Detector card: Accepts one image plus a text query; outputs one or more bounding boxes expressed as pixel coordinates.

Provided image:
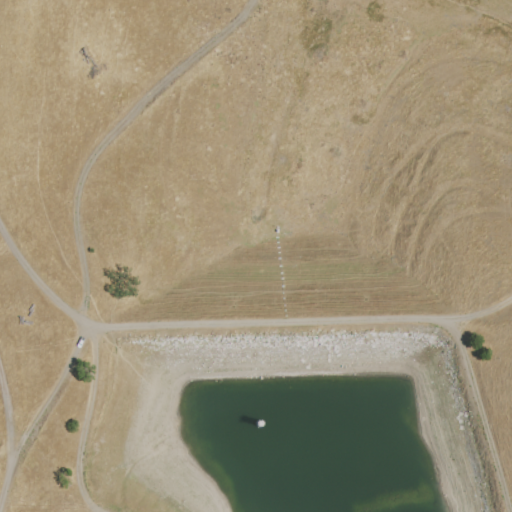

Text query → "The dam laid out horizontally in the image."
[118,232,460,382]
